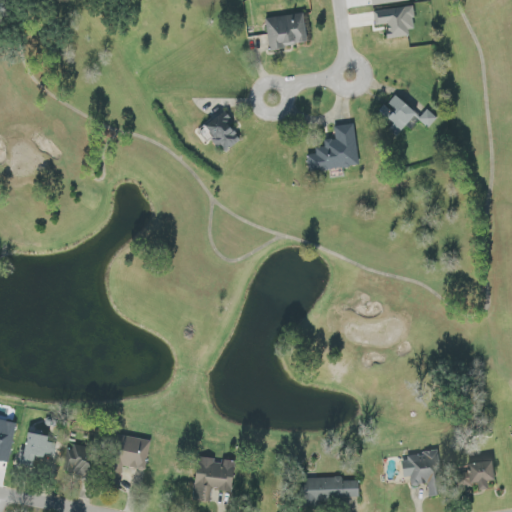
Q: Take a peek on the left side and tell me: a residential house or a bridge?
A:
residential house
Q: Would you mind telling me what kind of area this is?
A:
golf course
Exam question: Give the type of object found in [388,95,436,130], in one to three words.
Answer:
house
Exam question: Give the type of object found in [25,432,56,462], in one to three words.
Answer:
house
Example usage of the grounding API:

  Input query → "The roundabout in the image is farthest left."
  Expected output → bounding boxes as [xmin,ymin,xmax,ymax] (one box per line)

[250,78,292,120]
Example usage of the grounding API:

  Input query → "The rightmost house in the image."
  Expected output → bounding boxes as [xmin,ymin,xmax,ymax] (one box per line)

[459,459,496,490]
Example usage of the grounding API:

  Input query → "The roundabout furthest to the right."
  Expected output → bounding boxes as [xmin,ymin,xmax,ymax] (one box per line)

[328,52,372,97]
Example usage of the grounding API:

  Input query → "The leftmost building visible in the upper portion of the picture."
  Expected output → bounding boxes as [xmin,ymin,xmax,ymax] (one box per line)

[206,112,242,151]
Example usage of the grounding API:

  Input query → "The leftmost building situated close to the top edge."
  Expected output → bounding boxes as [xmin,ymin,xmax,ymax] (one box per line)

[266,12,307,51]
